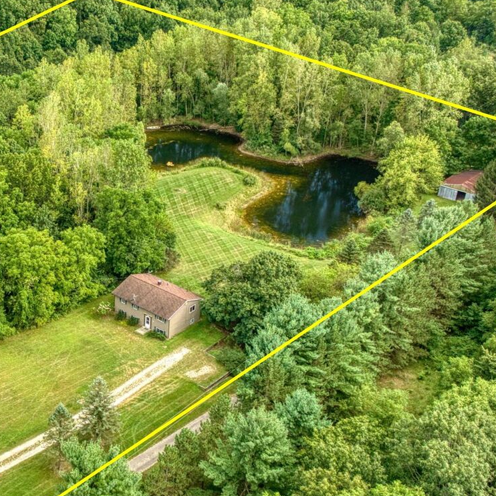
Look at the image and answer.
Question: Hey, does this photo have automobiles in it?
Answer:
No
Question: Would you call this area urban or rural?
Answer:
rural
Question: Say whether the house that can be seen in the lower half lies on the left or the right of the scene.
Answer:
left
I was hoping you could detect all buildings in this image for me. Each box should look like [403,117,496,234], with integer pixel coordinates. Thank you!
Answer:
[114,273,198,338]
[439,172,491,207]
